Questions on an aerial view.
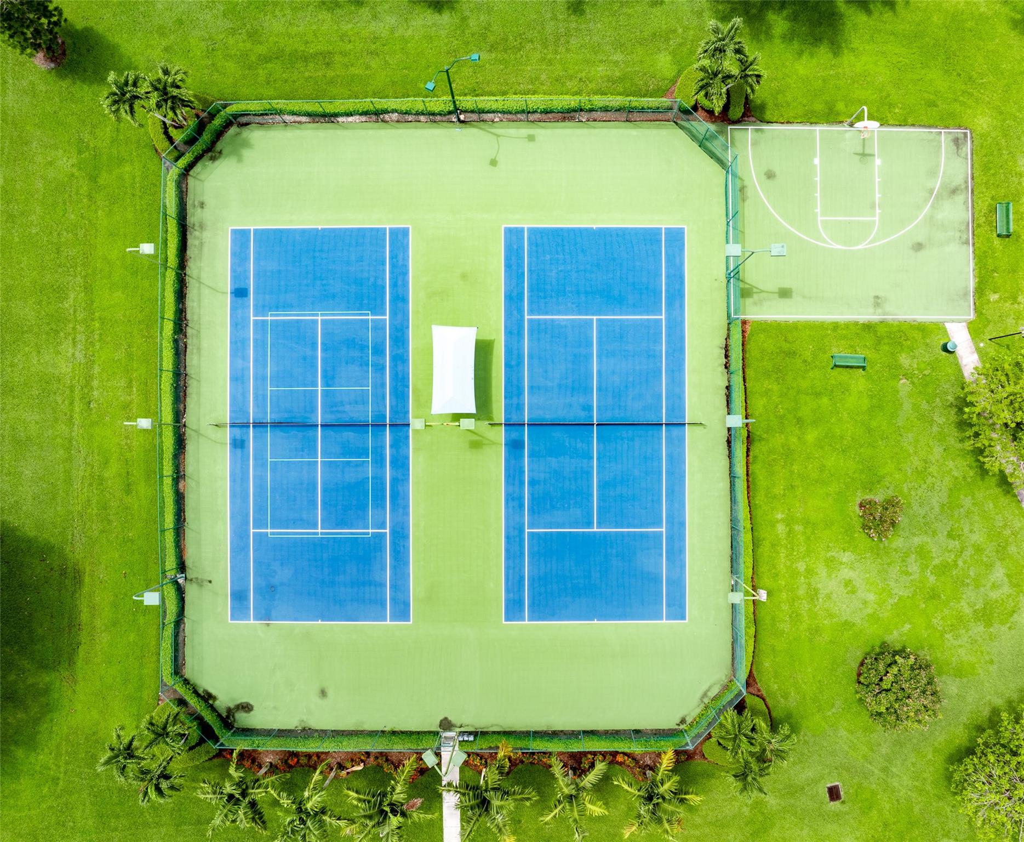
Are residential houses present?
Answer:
No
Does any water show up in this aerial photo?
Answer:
No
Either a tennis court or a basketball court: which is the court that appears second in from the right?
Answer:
tennis court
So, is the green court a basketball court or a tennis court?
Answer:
basketball court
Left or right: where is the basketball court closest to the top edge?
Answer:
right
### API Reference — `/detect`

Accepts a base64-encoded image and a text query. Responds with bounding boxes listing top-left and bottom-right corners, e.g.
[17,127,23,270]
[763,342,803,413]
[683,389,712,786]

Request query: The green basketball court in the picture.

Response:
[675,122,976,322]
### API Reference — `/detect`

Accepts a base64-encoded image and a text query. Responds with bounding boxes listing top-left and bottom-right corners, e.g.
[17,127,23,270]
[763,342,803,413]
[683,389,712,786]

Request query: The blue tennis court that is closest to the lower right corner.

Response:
[503,226,687,622]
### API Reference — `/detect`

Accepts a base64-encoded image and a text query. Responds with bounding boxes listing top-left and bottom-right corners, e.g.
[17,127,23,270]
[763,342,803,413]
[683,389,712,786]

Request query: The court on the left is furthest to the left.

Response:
[229,227,411,623]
